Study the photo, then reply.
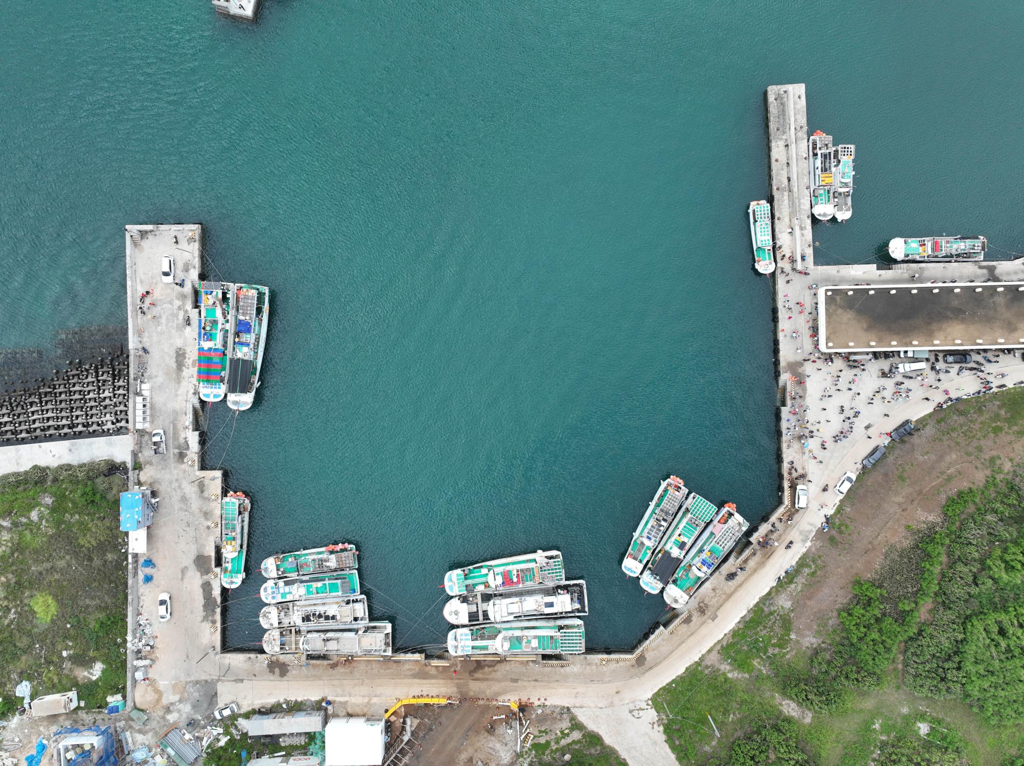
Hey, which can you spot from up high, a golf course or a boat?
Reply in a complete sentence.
There is a boat in the scene.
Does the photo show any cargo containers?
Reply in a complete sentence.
Yes, there is a cargo container in the image.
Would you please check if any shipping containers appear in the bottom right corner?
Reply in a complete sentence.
No, the scene shows no shipping container in the bottom right corner.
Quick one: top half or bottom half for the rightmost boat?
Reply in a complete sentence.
You can find the rightmost boat in the top half.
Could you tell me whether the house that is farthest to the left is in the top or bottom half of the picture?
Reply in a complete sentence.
The house that is farthest to the left sits in the bottom half of the picture.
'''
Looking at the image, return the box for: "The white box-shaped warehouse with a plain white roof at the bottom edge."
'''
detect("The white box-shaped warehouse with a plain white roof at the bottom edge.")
[323,716,385,766]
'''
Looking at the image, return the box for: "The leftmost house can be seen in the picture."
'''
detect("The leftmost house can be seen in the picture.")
[52,727,118,766]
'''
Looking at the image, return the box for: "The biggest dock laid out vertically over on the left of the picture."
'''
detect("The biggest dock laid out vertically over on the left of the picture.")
[126,223,226,714]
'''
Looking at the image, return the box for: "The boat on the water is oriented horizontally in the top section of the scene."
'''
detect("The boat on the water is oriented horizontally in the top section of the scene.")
[876,233,986,262]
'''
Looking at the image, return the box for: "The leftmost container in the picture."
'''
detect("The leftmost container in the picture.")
[31,691,80,717]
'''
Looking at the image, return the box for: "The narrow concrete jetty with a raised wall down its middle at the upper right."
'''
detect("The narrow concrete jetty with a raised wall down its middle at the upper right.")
[764,83,813,270]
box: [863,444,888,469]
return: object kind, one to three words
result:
car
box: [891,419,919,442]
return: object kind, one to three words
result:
car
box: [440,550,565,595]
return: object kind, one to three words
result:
boat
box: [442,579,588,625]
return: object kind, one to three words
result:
boat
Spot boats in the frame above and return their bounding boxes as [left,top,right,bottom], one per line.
[261,620,393,656]
[224,284,271,415]
[876,233,986,262]
[666,507,751,612]
[833,145,859,230]
[257,594,370,628]
[197,281,236,408]
[747,202,779,282]
[258,568,362,602]
[440,550,565,595]
[442,579,588,625]
[217,496,251,591]
[447,618,584,658]
[641,493,719,598]
[258,543,360,579]
[807,135,835,229]
[622,478,689,580]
